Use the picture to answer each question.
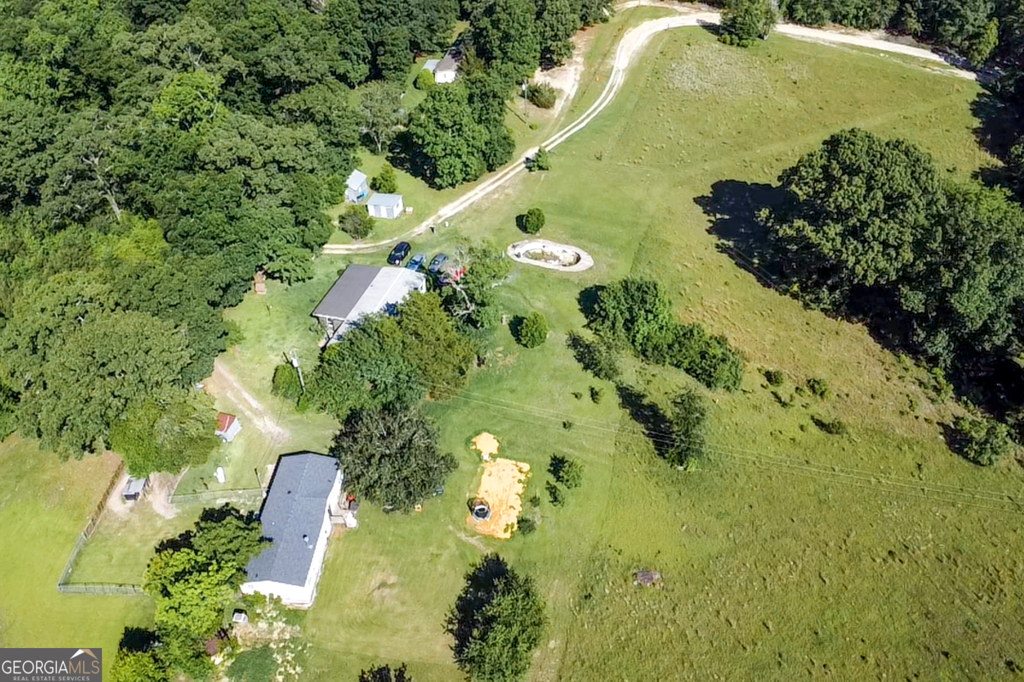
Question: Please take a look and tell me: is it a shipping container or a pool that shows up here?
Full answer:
There is a pool in the scene.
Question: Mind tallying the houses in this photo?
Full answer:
The count of houses comes to 3.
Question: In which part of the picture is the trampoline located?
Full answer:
The trampoline sits in the bottom section of the image.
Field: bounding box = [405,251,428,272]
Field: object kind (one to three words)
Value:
car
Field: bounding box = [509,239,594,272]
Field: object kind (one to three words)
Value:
swimming pool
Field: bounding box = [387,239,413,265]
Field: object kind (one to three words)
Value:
car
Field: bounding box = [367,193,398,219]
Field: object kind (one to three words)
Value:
shed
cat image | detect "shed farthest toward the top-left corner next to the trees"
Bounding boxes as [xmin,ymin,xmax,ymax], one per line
[346,169,369,202]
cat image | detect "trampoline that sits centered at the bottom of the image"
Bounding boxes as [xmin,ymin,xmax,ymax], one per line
[471,498,492,525]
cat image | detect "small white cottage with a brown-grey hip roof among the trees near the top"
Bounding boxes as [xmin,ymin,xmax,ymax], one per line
[426,49,466,87]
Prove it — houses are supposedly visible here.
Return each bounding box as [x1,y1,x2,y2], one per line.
[315,256,424,362]
[426,49,466,87]
[242,453,342,609]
